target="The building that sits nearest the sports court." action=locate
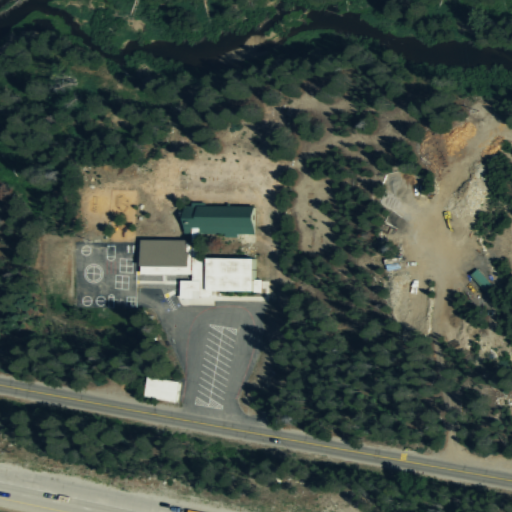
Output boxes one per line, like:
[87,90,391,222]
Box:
[140,240,192,274]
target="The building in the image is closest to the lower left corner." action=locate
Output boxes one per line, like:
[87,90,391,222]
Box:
[144,378,182,402]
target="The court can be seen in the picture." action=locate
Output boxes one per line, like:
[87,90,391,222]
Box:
[76,242,136,308]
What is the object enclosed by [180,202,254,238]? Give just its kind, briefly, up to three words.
building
